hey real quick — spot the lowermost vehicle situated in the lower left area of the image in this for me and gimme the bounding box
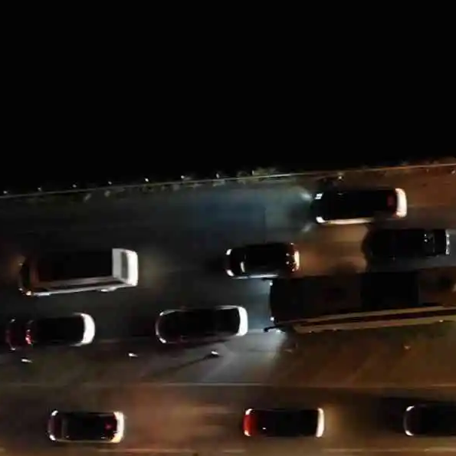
[44,406,128,444]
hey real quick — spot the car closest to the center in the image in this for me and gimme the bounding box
[223,238,303,279]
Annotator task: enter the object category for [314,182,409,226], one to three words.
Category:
car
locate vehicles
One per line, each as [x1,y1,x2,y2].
[365,223,451,262]
[153,302,250,343]
[403,400,456,439]
[314,182,409,226]
[44,406,128,444]
[23,248,140,296]
[4,309,98,348]
[242,402,327,440]
[223,238,303,279]
[269,262,456,332]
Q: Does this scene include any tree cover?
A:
No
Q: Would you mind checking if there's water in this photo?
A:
No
